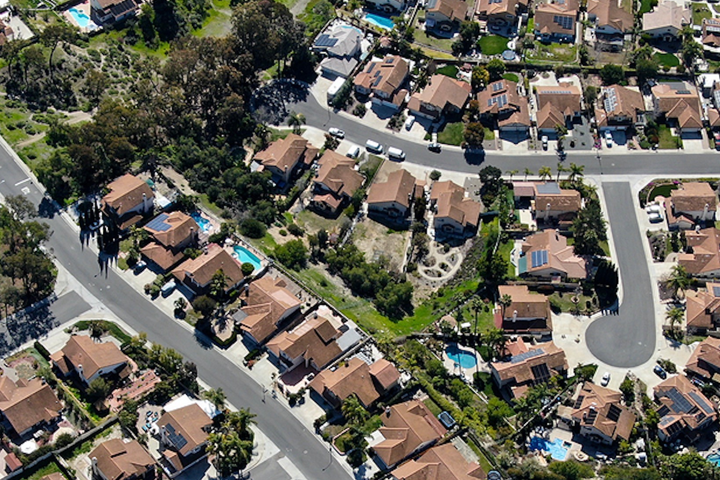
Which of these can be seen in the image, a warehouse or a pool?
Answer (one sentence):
There is a pool in the scene.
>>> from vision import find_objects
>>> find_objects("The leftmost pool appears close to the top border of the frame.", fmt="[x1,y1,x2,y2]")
[69,8,91,28]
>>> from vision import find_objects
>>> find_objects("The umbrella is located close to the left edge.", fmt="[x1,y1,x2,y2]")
[21,440,38,454]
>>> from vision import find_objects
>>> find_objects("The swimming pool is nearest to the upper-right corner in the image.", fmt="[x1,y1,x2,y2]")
[358,10,395,31]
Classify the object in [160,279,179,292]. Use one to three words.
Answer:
vehicle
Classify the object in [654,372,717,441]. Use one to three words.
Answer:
house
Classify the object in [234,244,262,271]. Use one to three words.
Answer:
swimming pool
